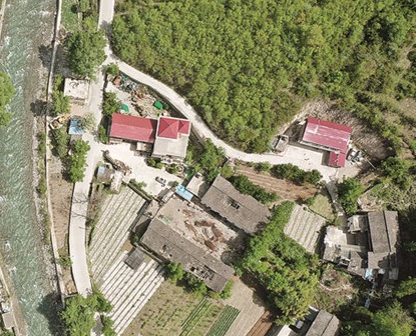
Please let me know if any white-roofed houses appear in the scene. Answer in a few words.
Yes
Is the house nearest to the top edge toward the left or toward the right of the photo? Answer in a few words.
left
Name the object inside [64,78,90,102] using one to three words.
house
